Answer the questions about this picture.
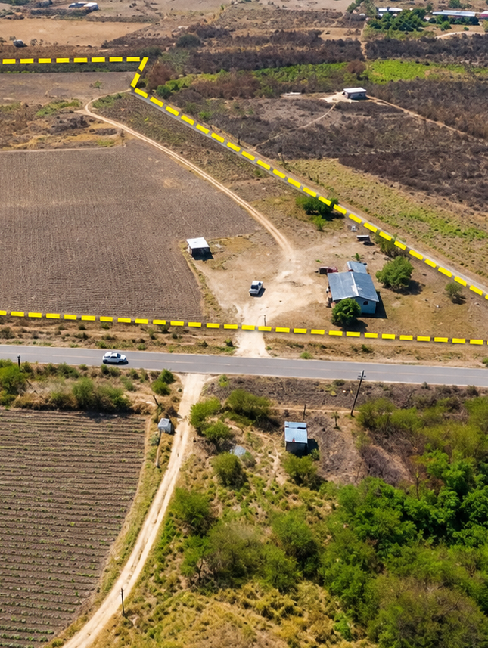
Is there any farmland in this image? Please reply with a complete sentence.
Yes, there is farmland in the image.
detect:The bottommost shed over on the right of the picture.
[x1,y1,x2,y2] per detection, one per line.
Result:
[280,419,311,453]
